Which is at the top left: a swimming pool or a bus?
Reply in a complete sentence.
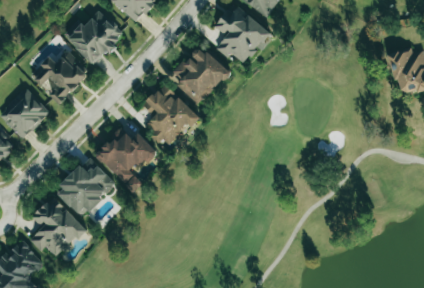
You can see a swimming pool at the top left.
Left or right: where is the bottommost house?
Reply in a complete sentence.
You can find the bottommost house on the left side of the picture.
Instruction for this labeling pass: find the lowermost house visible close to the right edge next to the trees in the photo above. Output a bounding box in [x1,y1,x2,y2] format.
[386,46,424,96]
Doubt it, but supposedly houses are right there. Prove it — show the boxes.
[242,0,278,18]
[65,14,121,64]
[386,46,424,96]
[146,85,199,148]
[214,4,272,66]
[36,50,86,106]
[58,158,113,216]
[0,86,46,138]
[172,46,230,104]
[0,242,42,288]
[96,128,155,186]
[30,203,85,259]
[113,0,156,22]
